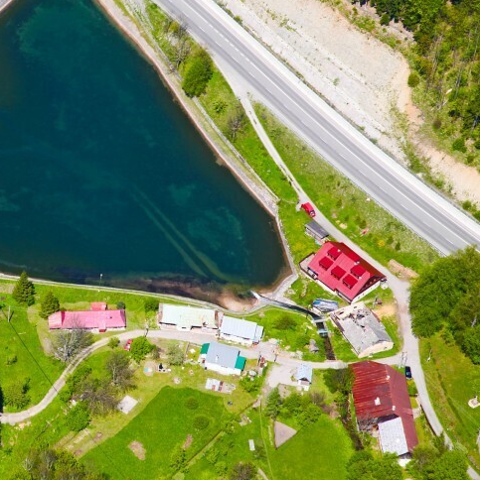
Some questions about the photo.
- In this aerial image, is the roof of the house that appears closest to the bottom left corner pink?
Yes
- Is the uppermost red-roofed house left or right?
right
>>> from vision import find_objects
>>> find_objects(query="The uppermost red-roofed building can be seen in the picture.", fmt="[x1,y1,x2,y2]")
[300,241,387,304]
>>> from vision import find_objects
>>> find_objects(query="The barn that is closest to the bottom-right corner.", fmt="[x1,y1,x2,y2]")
[349,365,419,480]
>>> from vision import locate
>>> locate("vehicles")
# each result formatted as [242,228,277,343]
[124,337,132,349]
[403,365,414,378]
[303,199,318,216]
